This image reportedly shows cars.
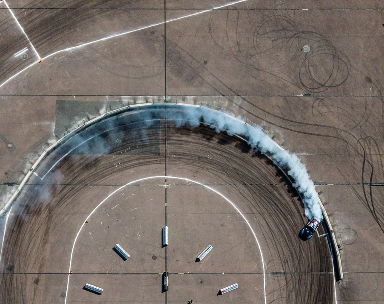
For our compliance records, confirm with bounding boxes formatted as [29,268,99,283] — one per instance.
[296,212,326,244]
